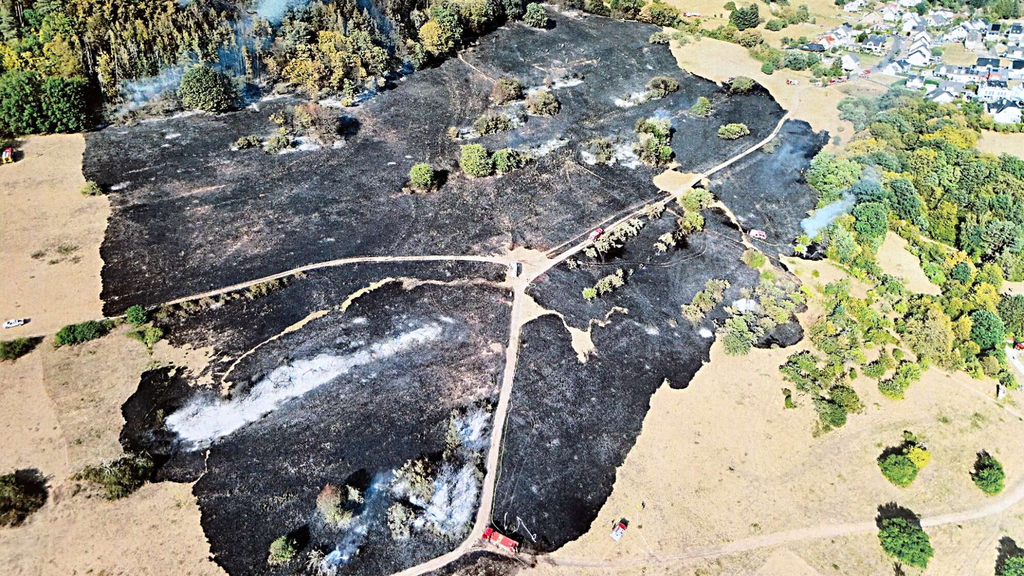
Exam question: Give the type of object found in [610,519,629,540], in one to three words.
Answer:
vehicle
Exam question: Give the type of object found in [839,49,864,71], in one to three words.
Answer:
house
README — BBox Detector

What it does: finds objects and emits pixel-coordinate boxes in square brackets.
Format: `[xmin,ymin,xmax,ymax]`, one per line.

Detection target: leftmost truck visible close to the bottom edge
[483,528,519,555]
